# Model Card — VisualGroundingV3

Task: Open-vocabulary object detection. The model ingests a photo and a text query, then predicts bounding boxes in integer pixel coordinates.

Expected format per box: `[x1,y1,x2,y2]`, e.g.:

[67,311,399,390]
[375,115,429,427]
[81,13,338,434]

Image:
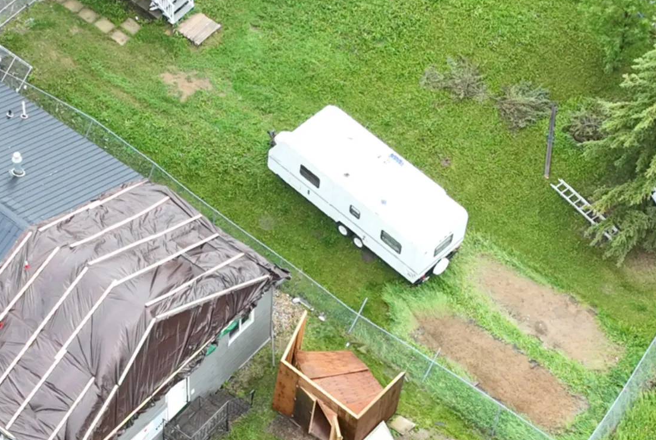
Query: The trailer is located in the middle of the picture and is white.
[268,105,466,286]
